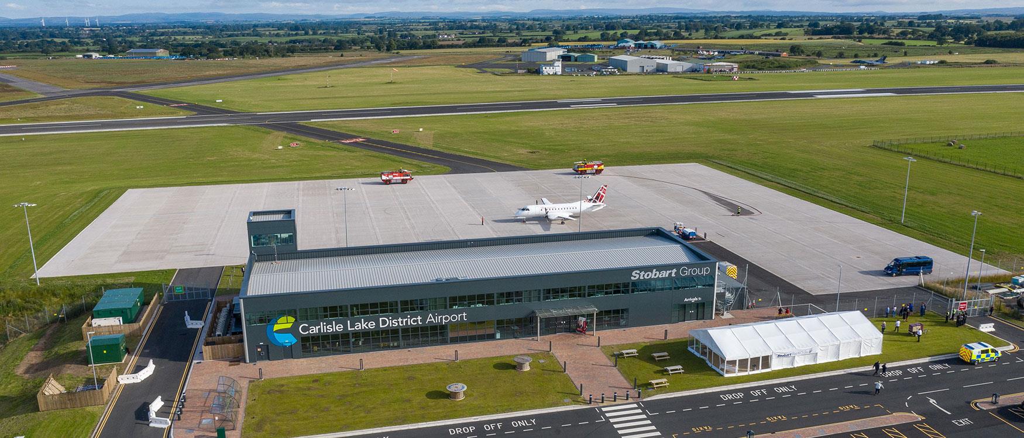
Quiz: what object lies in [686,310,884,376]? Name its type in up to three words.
tent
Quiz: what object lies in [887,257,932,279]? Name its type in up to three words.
vehicle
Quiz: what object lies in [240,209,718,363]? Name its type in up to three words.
building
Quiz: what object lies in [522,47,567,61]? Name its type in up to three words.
hangar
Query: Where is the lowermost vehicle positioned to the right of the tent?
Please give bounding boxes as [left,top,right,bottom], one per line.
[958,342,1003,364]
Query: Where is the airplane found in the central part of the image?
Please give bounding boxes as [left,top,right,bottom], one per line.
[513,186,602,223]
